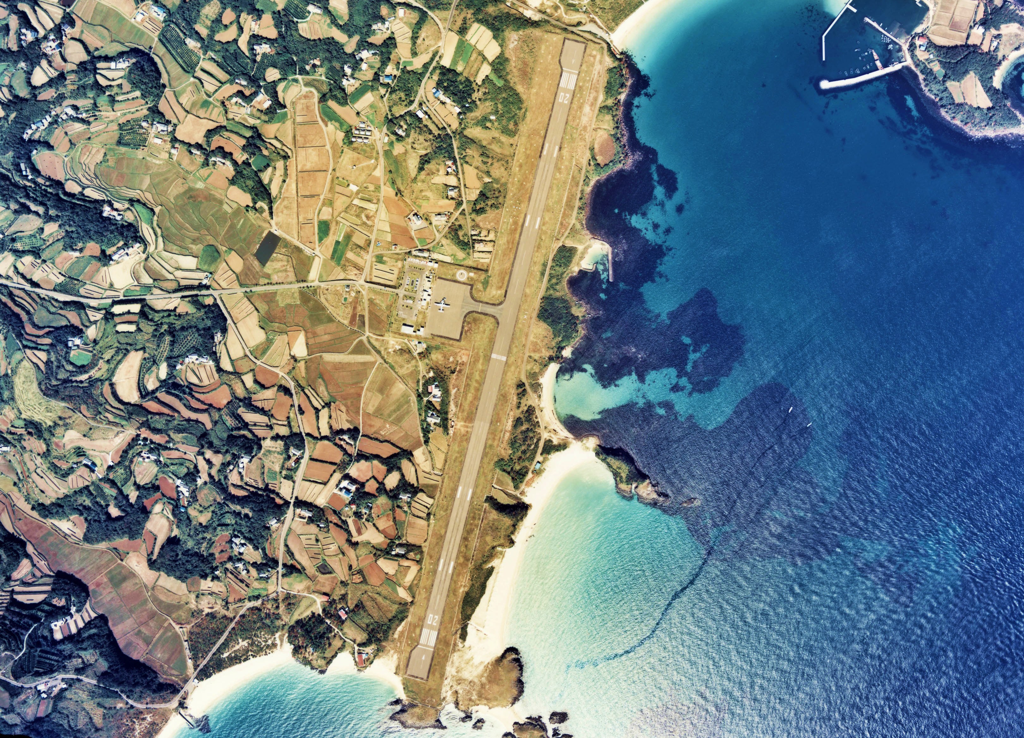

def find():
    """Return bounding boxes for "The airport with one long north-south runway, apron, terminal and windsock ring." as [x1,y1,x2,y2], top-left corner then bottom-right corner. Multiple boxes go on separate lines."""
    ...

[395,30,599,707]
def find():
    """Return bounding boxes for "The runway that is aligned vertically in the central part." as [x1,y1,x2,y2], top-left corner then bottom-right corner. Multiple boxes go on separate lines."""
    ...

[418,51,579,669]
